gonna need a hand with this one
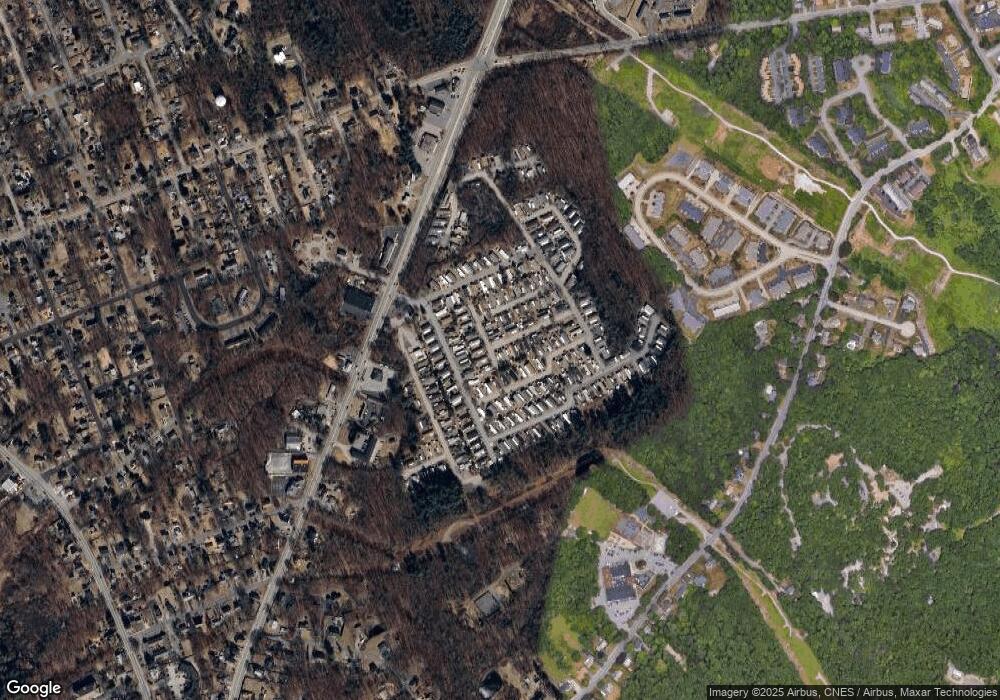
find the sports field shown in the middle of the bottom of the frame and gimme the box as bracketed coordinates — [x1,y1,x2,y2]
[571,488,618,538]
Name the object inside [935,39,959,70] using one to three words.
building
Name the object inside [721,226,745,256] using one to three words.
building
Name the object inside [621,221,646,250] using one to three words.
house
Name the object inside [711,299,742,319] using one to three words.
house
